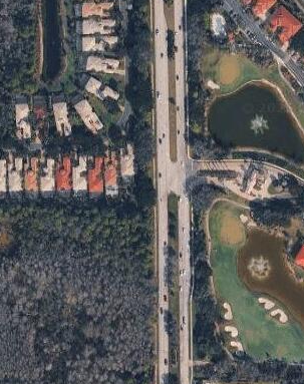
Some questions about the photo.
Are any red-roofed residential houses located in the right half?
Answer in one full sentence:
Yes, a red-roofed residential house shows up in the right half.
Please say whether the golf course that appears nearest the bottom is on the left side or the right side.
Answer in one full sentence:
The golf course that appears nearest the bottom sits on the right side.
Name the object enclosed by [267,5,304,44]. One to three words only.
house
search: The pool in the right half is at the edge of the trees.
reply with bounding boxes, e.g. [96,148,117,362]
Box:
[211,15,225,37]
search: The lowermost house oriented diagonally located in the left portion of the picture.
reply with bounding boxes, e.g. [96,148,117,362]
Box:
[70,92,104,135]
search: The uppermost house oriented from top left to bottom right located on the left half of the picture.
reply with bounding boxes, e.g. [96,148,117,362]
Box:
[77,70,119,106]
